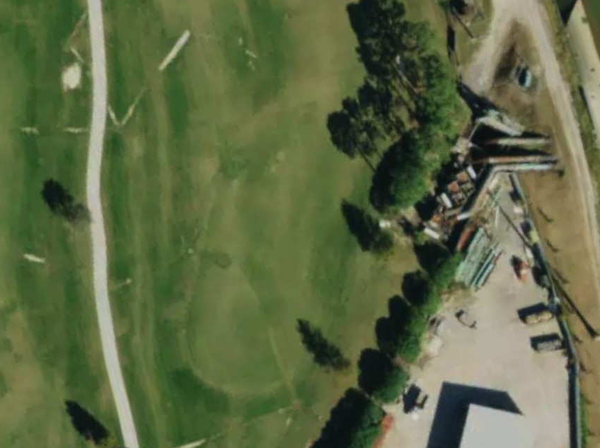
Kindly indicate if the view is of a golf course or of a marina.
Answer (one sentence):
It's a golf course.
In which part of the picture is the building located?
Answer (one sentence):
The building is in the bottom right part of the image.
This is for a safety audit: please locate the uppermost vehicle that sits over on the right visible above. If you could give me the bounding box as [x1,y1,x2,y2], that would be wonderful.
[514,257,527,278]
